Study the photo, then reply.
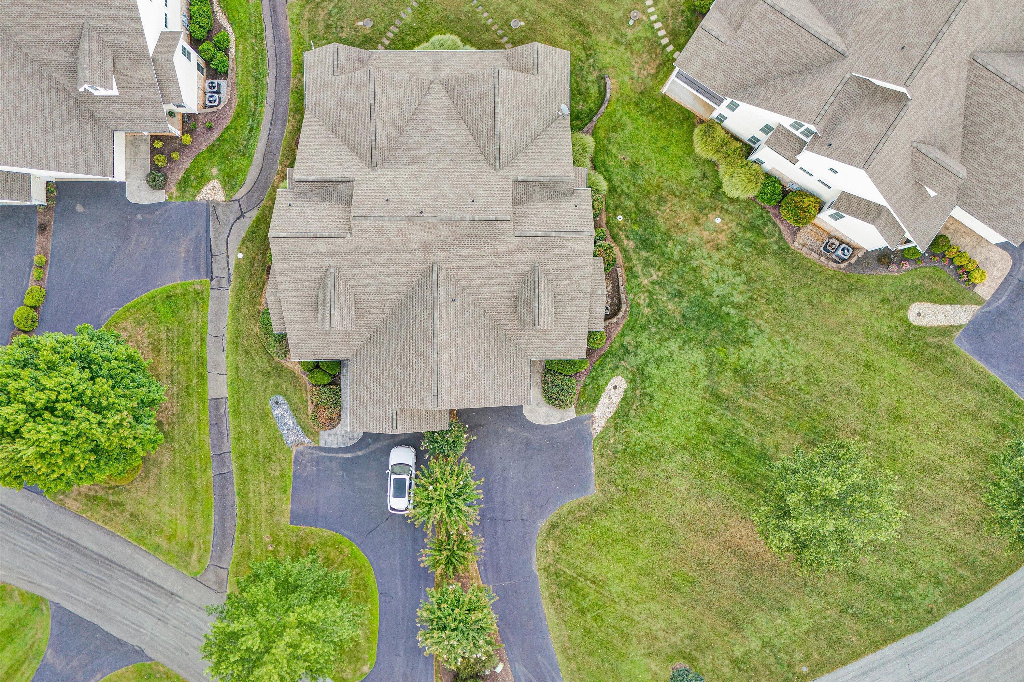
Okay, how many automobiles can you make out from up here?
one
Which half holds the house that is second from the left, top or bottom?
top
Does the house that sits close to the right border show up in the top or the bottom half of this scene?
top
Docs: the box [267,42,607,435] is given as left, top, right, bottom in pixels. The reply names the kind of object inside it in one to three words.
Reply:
house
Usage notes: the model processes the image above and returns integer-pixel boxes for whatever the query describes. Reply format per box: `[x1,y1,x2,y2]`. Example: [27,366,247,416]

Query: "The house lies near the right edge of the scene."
[662,0,1024,257]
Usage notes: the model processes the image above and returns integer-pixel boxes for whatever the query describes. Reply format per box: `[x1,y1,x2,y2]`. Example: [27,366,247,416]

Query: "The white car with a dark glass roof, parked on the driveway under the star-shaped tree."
[385,445,419,514]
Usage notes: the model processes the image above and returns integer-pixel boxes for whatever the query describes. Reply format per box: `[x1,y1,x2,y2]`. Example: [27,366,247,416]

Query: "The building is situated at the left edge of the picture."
[0,0,197,211]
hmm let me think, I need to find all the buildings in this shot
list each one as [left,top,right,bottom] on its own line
[0,0,197,211]
[662,0,1024,257]
[267,42,607,435]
